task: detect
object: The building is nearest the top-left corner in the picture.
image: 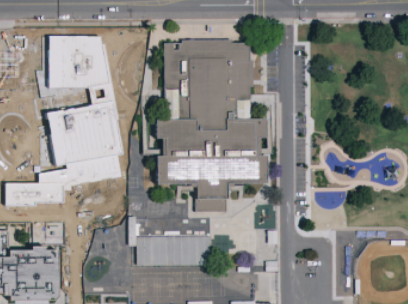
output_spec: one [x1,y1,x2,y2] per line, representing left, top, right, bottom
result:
[5,35,124,206]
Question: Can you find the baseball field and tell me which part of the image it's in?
bottom right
